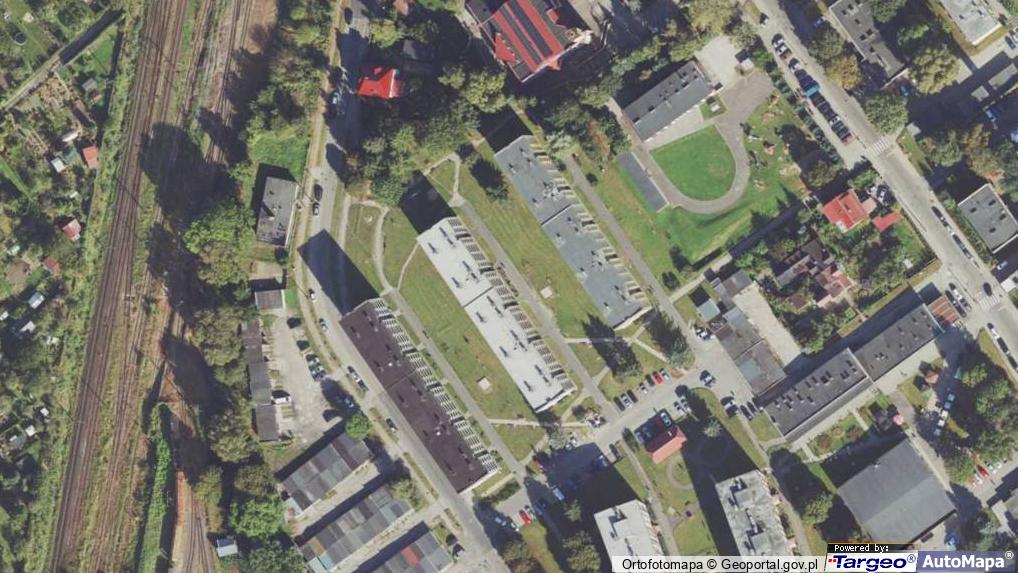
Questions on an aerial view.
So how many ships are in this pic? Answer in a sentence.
There are no ships in the image.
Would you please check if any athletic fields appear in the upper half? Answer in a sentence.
Yes, an athletic field appears in the upper half.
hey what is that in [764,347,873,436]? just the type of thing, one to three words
building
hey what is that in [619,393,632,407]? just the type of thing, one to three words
vehicle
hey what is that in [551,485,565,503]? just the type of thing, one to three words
vehicle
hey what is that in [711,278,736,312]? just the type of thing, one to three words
shed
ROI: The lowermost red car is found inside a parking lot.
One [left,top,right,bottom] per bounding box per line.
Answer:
[519,509,532,524]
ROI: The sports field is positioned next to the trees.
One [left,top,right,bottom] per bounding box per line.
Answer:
[635,110,754,213]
